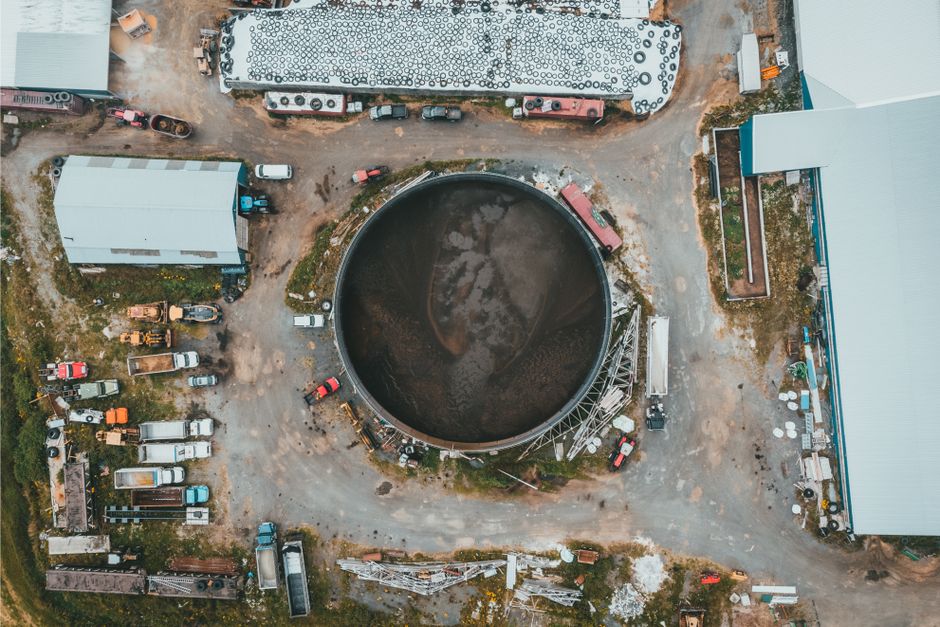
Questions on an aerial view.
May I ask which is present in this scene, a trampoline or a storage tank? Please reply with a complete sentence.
Visible in the photo is a storage tank.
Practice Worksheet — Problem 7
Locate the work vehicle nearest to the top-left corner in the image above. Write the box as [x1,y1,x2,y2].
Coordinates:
[101,107,150,130]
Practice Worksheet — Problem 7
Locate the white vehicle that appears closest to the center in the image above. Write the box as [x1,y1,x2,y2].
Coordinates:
[293,313,326,328]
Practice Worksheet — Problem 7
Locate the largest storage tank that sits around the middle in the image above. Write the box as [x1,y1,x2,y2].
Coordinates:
[332,172,612,452]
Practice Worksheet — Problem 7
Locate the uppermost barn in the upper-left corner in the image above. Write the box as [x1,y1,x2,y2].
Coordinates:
[0,0,137,97]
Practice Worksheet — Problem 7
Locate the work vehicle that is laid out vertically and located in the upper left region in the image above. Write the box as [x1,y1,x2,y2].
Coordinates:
[196,28,218,78]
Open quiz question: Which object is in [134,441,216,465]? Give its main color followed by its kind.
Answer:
white truck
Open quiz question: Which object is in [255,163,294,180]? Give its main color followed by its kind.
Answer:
white vehicle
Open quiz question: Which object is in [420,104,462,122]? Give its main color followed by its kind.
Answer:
gray vehicle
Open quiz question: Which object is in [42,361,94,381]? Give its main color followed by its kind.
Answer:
red vehicle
